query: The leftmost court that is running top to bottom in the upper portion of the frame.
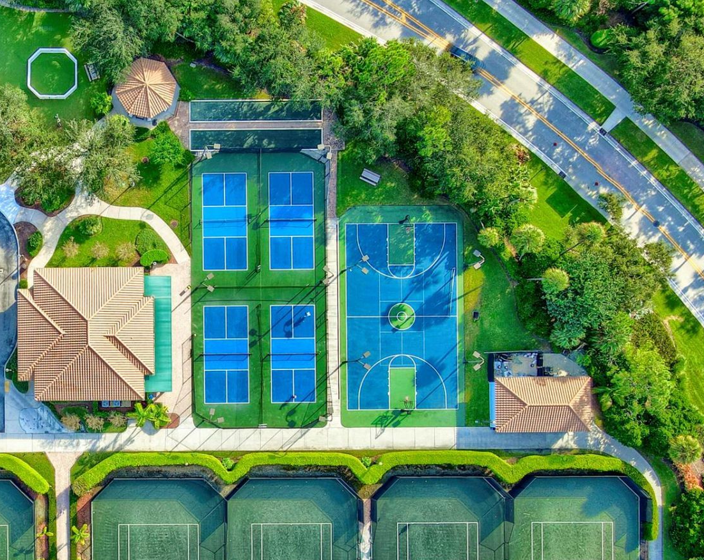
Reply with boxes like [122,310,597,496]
[191,152,260,294]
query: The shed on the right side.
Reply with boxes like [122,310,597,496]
[487,377,591,434]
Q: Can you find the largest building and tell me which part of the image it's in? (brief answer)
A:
left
